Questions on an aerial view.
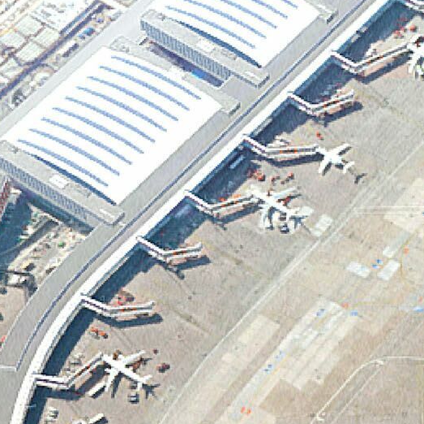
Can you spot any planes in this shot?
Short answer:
Yes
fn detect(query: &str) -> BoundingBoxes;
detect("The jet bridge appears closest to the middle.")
[186,196,258,221]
